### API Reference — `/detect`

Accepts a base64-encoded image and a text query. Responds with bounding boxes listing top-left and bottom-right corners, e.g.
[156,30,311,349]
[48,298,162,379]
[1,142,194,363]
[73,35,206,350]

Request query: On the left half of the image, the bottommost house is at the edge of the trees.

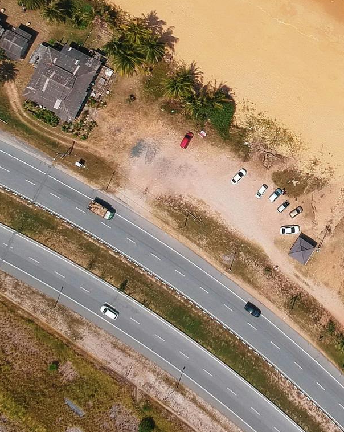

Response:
[23,44,108,122]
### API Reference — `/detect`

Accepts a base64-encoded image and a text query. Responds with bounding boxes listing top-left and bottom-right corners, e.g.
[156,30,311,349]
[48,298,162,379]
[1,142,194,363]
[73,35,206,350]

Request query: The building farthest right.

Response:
[288,234,318,264]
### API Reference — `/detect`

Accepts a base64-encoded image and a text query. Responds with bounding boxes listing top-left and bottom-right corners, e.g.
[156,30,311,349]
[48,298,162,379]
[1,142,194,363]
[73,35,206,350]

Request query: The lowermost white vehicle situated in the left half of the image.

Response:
[98,304,118,320]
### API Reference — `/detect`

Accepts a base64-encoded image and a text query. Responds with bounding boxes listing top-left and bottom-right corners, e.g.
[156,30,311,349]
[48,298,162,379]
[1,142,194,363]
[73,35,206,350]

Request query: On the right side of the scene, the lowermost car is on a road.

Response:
[243,303,261,318]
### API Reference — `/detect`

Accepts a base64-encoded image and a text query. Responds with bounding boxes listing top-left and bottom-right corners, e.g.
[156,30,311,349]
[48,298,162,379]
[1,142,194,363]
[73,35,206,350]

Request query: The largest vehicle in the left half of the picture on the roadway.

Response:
[83,197,115,220]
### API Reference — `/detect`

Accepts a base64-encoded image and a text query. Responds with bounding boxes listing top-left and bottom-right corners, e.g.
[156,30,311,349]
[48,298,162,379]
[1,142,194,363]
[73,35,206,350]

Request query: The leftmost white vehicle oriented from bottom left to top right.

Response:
[230,166,247,186]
